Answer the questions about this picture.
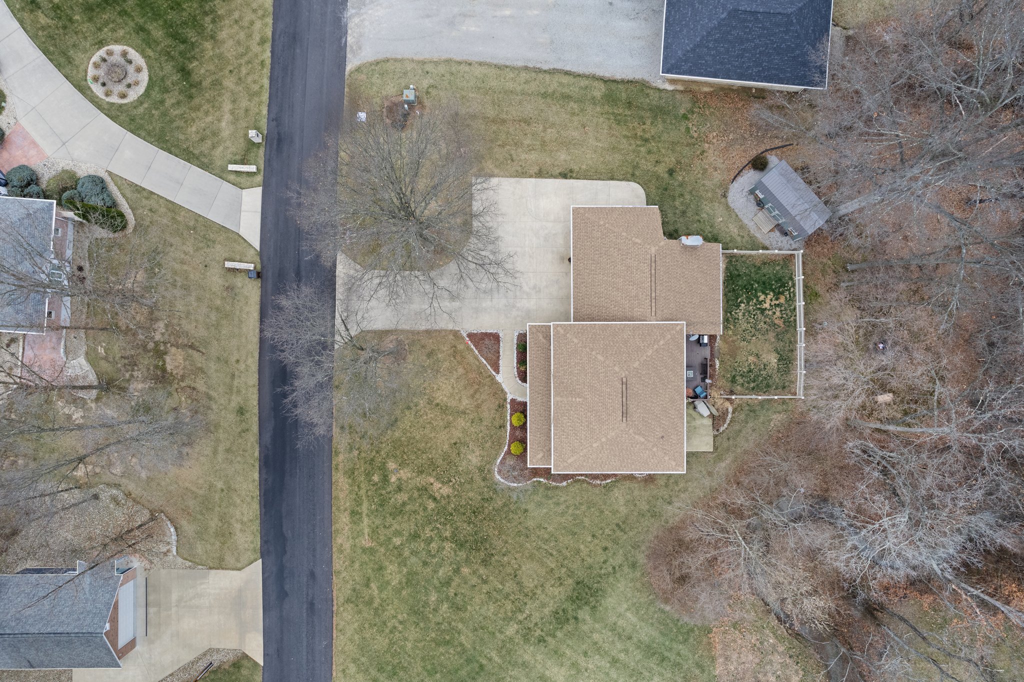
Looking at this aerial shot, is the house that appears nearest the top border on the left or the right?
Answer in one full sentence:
The house that appears nearest the top border sits on the right side.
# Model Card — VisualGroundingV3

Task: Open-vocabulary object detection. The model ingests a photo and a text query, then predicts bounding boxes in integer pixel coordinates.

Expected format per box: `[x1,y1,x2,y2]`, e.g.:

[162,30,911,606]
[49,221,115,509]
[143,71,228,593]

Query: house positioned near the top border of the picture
[659,0,834,97]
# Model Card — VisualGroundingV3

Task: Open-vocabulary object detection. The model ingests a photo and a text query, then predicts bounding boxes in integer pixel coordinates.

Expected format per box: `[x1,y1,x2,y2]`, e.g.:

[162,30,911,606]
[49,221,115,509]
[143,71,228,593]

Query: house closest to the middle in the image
[527,205,722,474]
